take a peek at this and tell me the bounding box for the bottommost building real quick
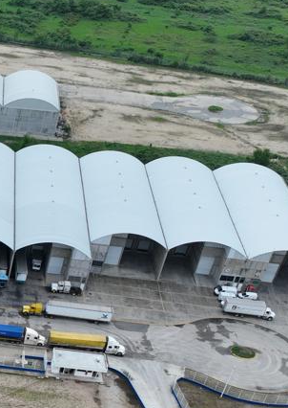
[45,348,108,386]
